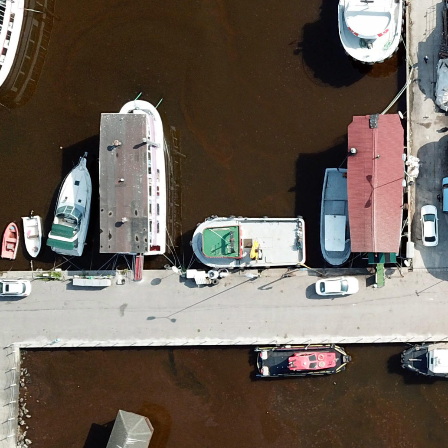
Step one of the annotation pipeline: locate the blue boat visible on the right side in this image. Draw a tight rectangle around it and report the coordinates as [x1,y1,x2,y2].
[320,156,351,265]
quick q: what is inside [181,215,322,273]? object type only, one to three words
boat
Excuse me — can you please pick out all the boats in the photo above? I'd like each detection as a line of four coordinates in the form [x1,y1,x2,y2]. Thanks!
[181,215,322,273]
[0,0,24,89]
[1,222,20,271]
[320,156,351,265]
[399,338,448,377]
[48,151,99,270]
[257,337,351,375]
[23,213,42,270]
[97,92,180,270]
[348,79,410,271]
